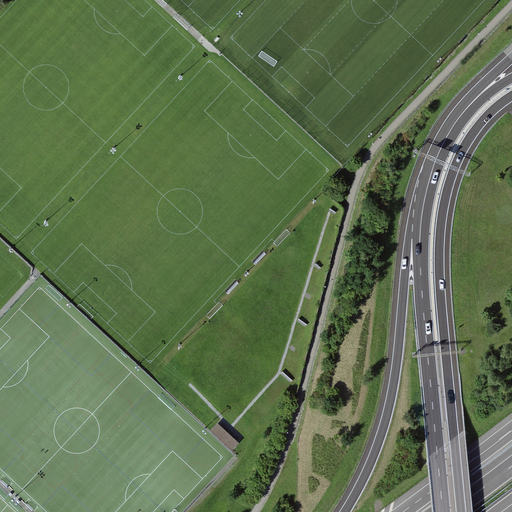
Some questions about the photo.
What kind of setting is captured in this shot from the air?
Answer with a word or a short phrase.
sports ground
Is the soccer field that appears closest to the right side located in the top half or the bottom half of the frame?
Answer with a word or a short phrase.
top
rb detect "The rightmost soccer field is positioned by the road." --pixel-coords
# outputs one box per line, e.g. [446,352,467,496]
[226,0,488,152]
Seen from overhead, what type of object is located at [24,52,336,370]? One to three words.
soccer field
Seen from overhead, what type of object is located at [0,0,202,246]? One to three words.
soccer field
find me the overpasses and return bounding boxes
[424,410,474,512]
